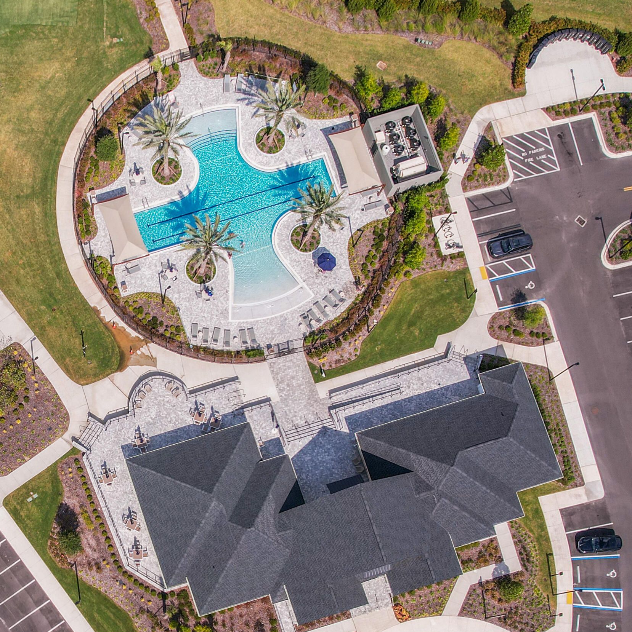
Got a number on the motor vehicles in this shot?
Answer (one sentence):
I count 2 motor vehicles.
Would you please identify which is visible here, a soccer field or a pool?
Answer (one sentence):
Of the two, only a pool appears.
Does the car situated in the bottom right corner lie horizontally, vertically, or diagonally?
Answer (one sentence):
What the image shows is the car situated in the bottom right corner lying horizontally.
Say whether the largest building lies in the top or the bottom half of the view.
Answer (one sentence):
It is in the bottom half that the largest building appears.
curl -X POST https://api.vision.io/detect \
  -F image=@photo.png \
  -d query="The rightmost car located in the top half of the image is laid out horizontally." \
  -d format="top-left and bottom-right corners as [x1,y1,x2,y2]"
[487,231,534,257]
